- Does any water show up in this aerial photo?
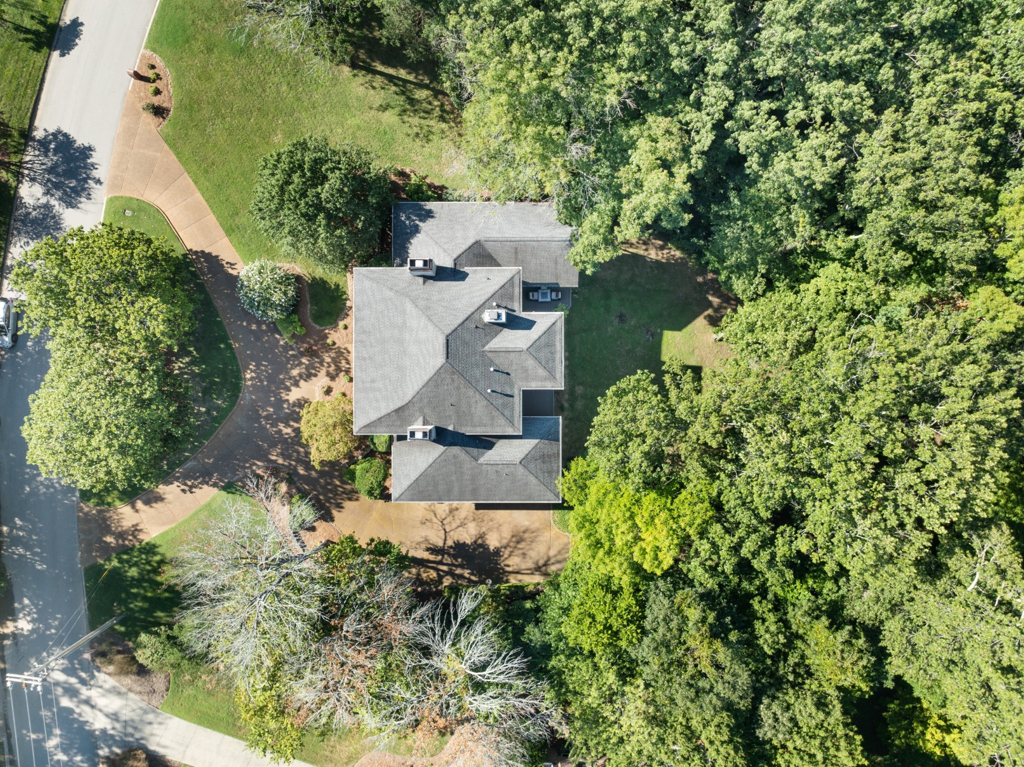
No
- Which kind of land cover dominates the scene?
trees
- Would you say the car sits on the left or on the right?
left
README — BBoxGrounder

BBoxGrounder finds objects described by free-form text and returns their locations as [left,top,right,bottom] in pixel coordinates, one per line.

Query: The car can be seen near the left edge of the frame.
[0,297,22,350]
